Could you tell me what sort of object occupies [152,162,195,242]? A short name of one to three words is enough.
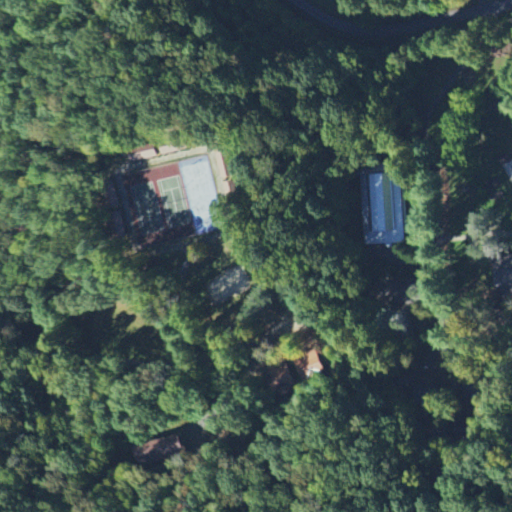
tennis court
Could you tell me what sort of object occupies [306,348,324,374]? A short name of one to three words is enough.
house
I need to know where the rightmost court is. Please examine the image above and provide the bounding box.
[179,155,224,234]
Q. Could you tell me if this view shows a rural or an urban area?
rural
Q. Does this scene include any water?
No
